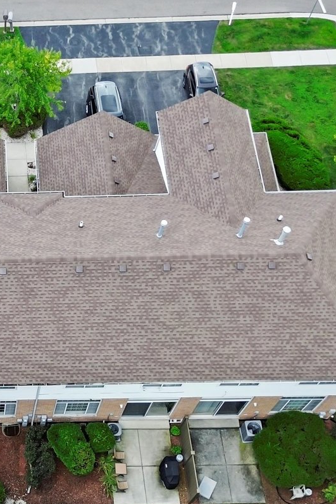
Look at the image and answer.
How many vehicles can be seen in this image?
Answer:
2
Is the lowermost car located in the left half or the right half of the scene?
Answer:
left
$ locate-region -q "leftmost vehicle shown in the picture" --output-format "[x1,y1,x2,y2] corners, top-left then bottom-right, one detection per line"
[84,84,127,123]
